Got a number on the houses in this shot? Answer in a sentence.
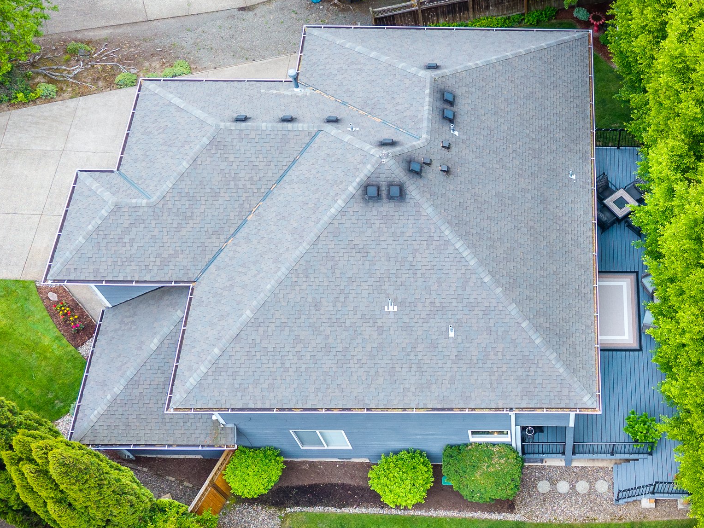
The picture shows 1 house.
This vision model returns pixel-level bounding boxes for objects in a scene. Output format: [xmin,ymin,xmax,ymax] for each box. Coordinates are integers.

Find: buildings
[44,26,602,466]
